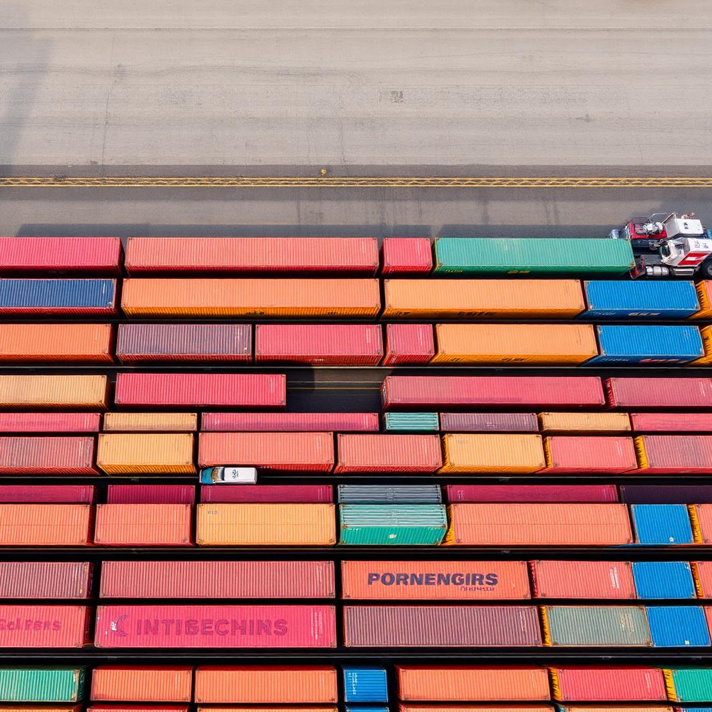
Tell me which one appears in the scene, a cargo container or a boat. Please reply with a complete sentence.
There is a cargo container in the scene.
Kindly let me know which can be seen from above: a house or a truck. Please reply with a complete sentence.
The image shows a truck.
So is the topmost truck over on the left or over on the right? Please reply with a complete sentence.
The topmost truck appears in the right half of the scene.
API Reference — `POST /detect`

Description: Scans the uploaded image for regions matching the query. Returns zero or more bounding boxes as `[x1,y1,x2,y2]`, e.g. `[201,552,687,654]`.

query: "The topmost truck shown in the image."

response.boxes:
[608,207,712,248]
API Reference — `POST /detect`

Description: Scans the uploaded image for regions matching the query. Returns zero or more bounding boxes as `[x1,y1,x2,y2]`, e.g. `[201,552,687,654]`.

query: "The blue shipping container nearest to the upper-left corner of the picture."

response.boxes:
[0,280,123,318]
